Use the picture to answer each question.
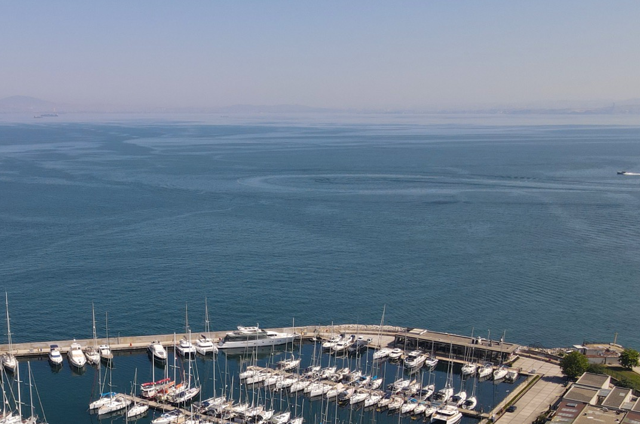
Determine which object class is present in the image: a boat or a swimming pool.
boat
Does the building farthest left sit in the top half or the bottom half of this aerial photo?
bottom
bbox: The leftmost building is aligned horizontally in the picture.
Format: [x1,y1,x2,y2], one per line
[395,328,520,363]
